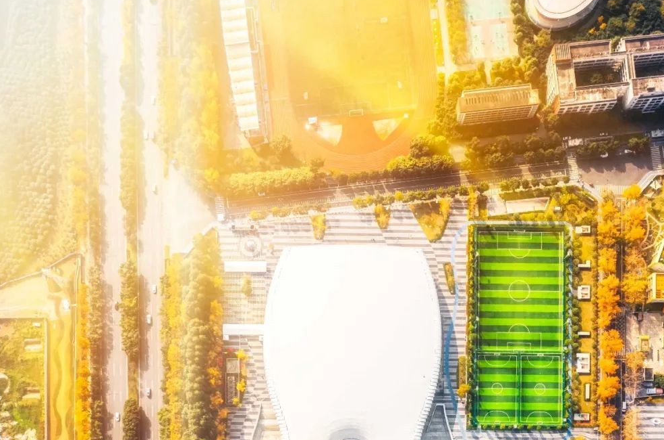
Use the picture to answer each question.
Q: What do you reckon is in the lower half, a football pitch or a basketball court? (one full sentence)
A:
What appears in the lower half is a football pitch.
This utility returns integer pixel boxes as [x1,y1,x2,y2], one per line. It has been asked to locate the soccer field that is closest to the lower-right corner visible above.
[521,354,566,426]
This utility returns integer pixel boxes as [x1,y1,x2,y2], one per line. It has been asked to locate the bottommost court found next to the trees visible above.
[466,19,518,63]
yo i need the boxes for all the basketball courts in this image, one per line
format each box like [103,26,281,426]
[464,0,512,24]
[466,19,518,63]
